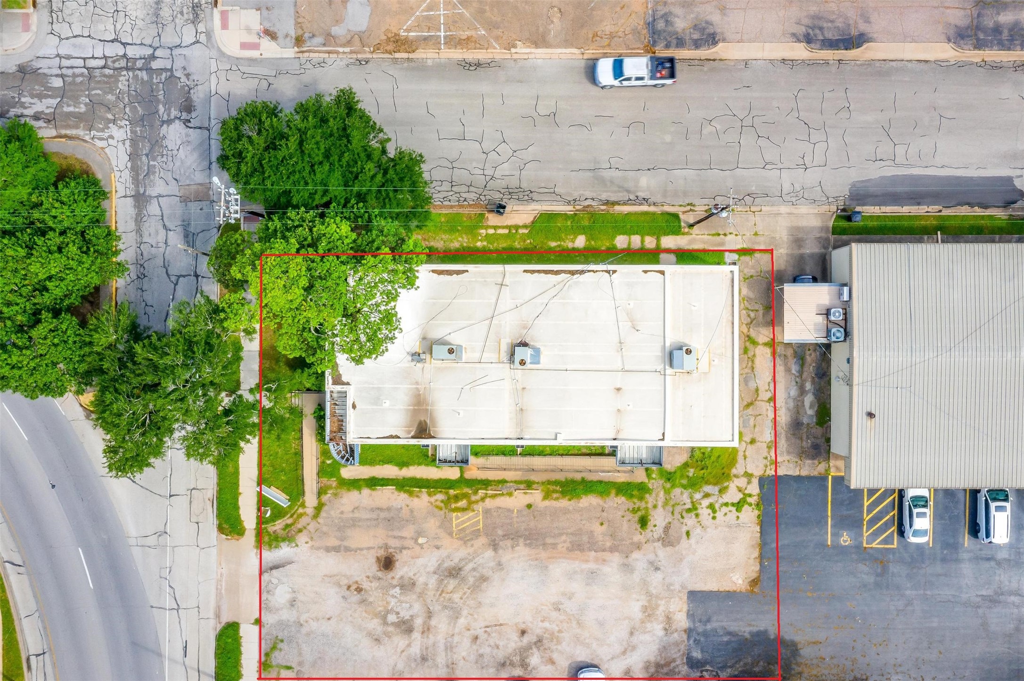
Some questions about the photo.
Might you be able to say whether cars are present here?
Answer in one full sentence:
Yes, you can see a car in this photo.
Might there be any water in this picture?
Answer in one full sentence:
No, the scene doesn't show any water.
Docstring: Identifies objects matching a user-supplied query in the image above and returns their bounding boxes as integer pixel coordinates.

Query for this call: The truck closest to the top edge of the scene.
[595,55,675,91]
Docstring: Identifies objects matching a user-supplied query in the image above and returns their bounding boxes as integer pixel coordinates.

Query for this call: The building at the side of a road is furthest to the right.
[833,235,1024,490]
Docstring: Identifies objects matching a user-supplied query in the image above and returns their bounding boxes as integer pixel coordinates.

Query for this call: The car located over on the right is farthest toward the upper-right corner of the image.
[789,268,820,284]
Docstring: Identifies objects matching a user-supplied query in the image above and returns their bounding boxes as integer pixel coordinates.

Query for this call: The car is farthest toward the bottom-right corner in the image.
[972,490,1009,545]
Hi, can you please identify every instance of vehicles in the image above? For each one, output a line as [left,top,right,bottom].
[789,268,820,284]
[972,490,1009,545]
[579,665,605,681]
[595,55,675,91]
[900,490,934,543]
